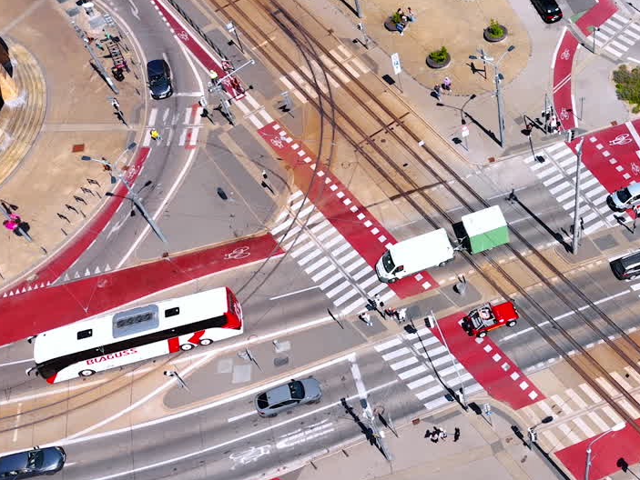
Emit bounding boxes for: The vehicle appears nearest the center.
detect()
[369,223,457,282]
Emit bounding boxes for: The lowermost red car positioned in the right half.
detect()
[466,299,522,337]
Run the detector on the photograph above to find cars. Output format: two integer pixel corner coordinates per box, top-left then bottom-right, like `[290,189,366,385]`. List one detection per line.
[0,442,67,480]
[607,179,640,212]
[254,376,322,419]
[146,61,173,100]
[466,299,522,337]
[533,0,563,23]
[612,248,640,281]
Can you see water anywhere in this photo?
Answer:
No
